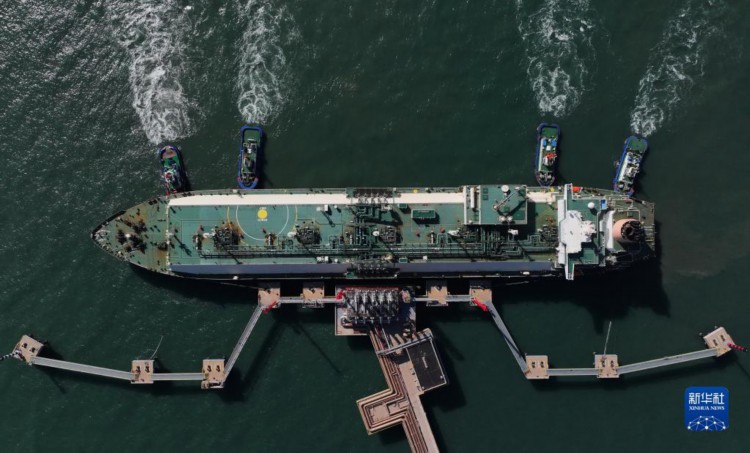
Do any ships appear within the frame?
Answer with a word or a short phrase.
Yes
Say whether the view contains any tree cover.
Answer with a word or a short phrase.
No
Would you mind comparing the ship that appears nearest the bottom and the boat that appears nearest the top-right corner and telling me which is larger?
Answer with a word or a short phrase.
the ship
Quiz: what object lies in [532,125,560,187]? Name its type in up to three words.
boat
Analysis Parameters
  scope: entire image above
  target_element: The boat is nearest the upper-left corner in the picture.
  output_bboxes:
[157,145,190,193]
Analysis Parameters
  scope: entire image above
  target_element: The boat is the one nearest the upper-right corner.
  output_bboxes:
[613,136,648,194]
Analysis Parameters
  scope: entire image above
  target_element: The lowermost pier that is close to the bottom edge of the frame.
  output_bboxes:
[356,330,444,453]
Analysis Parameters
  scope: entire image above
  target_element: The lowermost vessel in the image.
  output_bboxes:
[89,183,656,281]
